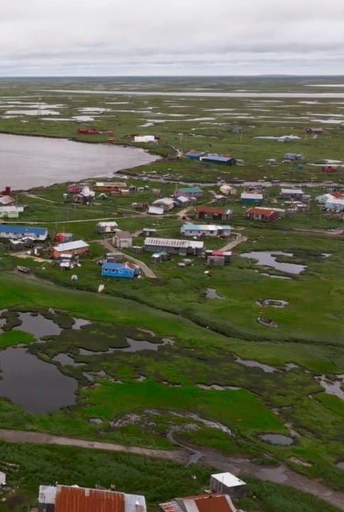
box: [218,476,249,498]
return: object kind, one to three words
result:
shed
